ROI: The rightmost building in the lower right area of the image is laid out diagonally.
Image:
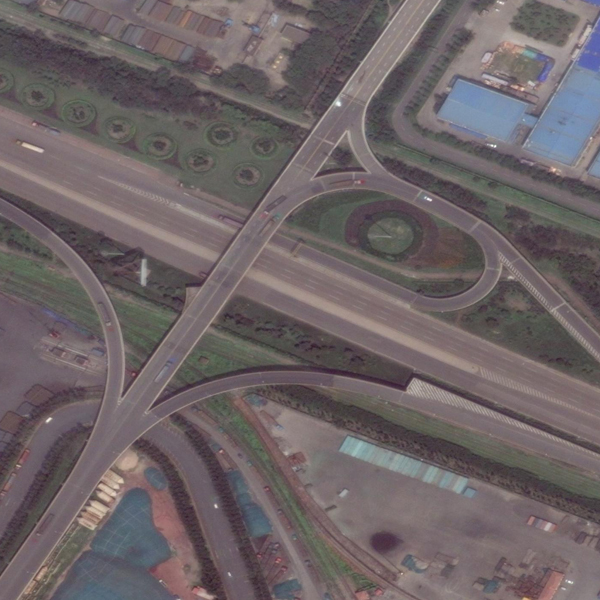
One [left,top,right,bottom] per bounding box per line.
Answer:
[539,571,567,600]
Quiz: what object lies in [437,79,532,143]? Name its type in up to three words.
building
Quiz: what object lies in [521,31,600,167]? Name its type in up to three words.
building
